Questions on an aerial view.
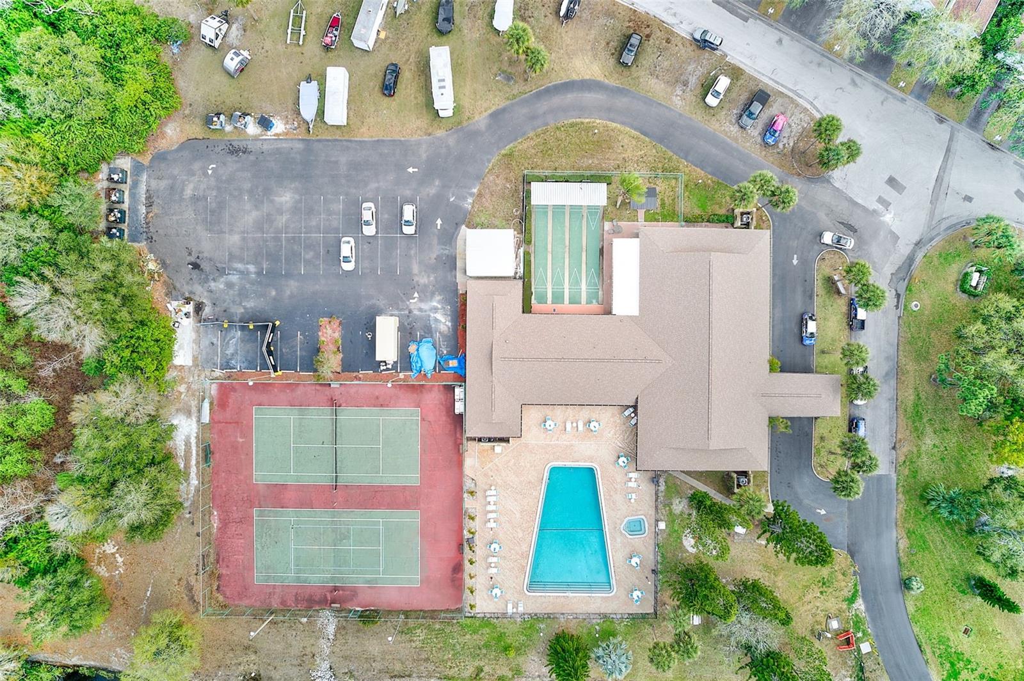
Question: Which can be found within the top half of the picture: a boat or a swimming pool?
boat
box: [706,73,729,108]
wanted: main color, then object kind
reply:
white car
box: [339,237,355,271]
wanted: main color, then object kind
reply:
white car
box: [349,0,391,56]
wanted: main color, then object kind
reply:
white trailer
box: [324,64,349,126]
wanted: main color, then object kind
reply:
white trailer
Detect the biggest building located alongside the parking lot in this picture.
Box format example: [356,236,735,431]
[466,228,840,473]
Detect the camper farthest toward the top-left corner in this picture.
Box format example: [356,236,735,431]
[203,12,229,46]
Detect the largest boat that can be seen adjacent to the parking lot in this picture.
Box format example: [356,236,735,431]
[300,74,317,123]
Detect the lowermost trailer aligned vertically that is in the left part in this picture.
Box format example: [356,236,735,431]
[376,317,399,371]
